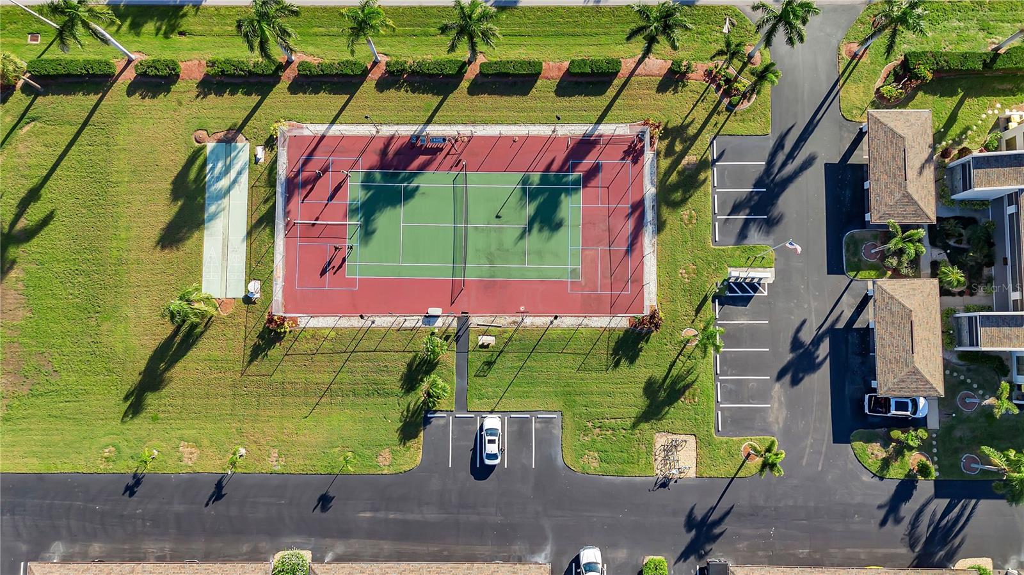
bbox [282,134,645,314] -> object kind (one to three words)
tennis court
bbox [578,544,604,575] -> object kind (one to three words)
truck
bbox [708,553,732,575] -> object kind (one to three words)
vehicle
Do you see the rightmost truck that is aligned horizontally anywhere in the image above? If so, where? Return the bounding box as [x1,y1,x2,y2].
[862,397,929,422]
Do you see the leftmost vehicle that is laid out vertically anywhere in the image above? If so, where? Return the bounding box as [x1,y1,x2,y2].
[481,416,504,467]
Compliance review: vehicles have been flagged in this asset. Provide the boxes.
[578,544,604,575]
[862,397,929,422]
[708,553,732,575]
[481,416,504,467]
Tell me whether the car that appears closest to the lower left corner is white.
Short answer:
Yes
